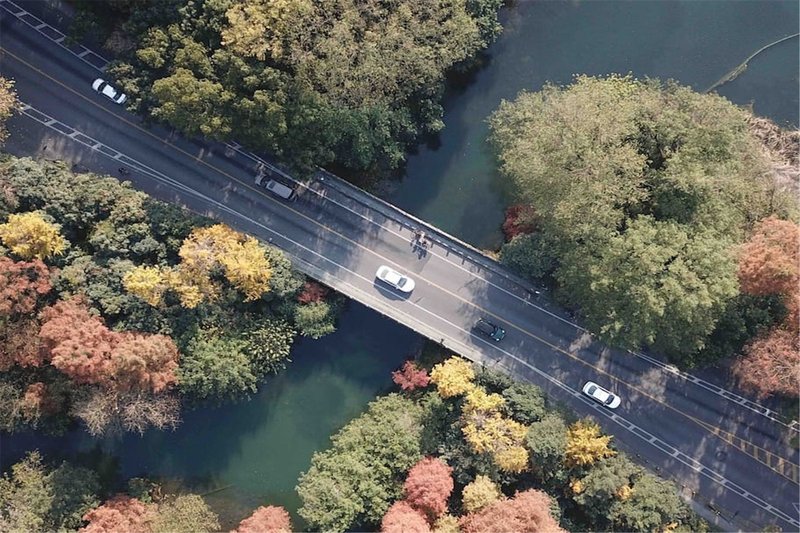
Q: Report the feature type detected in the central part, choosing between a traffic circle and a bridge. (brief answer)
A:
bridge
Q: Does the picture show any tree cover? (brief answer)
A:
Yes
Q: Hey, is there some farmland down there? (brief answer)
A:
No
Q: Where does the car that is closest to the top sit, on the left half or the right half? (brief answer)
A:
left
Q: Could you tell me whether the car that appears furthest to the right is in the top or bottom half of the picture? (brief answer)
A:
bottom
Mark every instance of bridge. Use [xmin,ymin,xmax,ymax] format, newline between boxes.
[290,163,546,367]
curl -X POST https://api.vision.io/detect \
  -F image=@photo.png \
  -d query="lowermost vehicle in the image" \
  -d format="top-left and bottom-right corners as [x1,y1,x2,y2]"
[579,379,621,410]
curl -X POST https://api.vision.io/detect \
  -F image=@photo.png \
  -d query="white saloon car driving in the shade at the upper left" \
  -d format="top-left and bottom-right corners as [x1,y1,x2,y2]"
[90,77,130,108]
